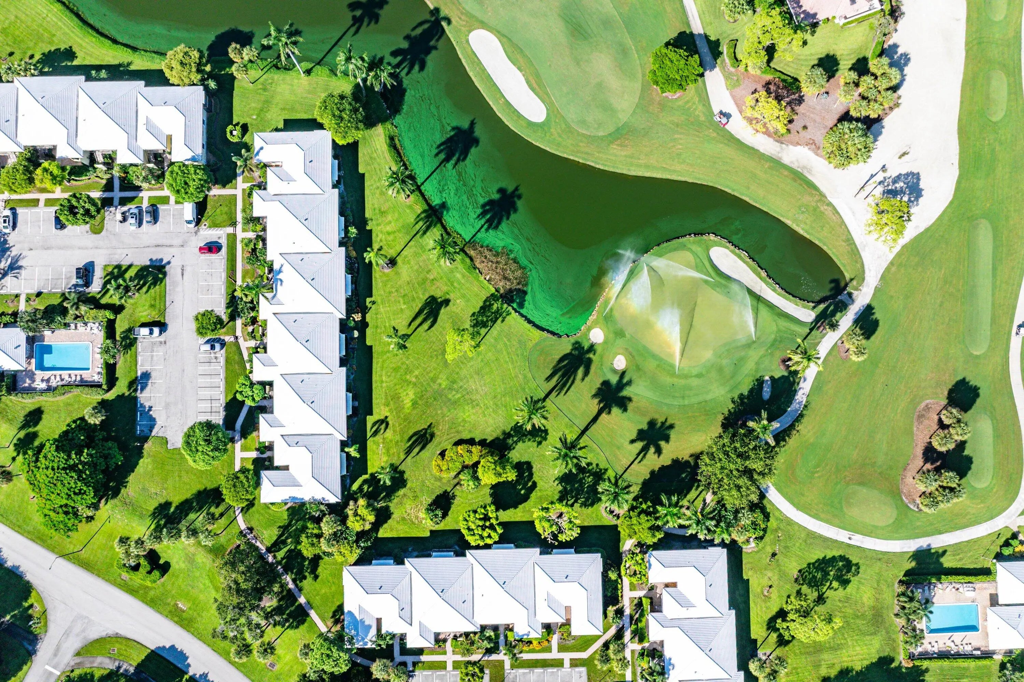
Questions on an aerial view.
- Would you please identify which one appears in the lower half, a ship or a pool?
pool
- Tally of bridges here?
0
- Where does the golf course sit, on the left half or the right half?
right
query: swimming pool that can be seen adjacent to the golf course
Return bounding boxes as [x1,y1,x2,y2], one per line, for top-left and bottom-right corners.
[902,584,1014,659]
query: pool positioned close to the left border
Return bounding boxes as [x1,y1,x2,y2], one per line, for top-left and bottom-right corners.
[11,322,98,392]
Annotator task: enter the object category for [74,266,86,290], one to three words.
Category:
vehicle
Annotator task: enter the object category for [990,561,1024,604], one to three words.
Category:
building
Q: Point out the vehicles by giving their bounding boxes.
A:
[181,201,195,228]
[0,209,12,232]
[130,327,161,338]
[116,212,126,223]
[127,208,138,230]
[143,205,154,226]
[74,266,86,290]
[199,343,222,353]
[198,245,218,255]
[53,208,65,229]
